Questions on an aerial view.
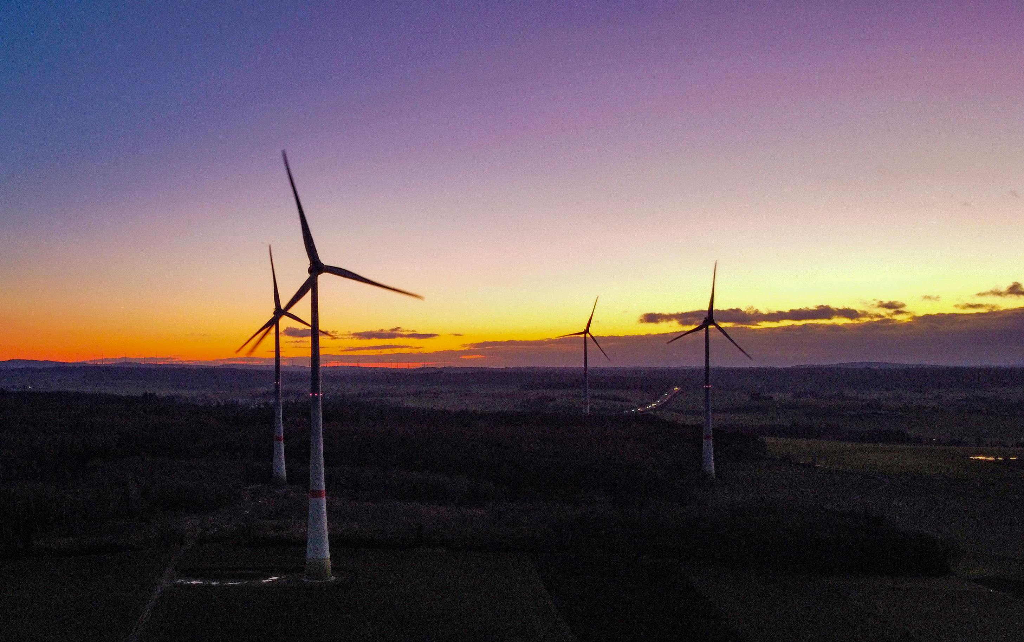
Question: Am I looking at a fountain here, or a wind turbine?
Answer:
wind turbine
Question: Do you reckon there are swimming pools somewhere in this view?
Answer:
No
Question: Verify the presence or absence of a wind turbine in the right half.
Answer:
Yes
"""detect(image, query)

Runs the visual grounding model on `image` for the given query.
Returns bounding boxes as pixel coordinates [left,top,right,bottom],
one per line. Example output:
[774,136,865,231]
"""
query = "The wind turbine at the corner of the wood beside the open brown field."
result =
[664,261,753,479]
